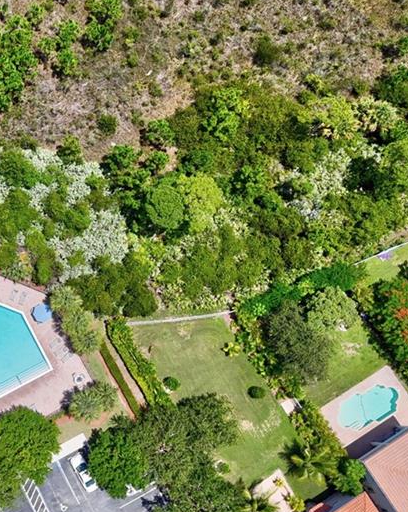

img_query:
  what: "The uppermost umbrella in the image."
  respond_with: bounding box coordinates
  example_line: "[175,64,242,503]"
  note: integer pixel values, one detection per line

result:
[32,303,52,324]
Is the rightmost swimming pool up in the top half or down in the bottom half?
bottom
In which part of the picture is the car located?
bottom left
